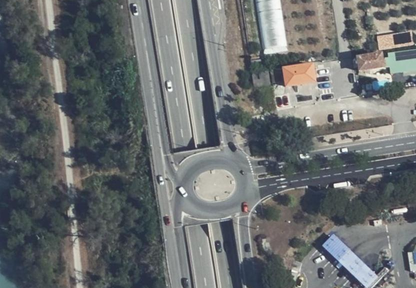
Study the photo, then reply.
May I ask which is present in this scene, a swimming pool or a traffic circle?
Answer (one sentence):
The image shows a traffic circle.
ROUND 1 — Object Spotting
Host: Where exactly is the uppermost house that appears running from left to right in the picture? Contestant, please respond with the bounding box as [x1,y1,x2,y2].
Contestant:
[377,30,415,50]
